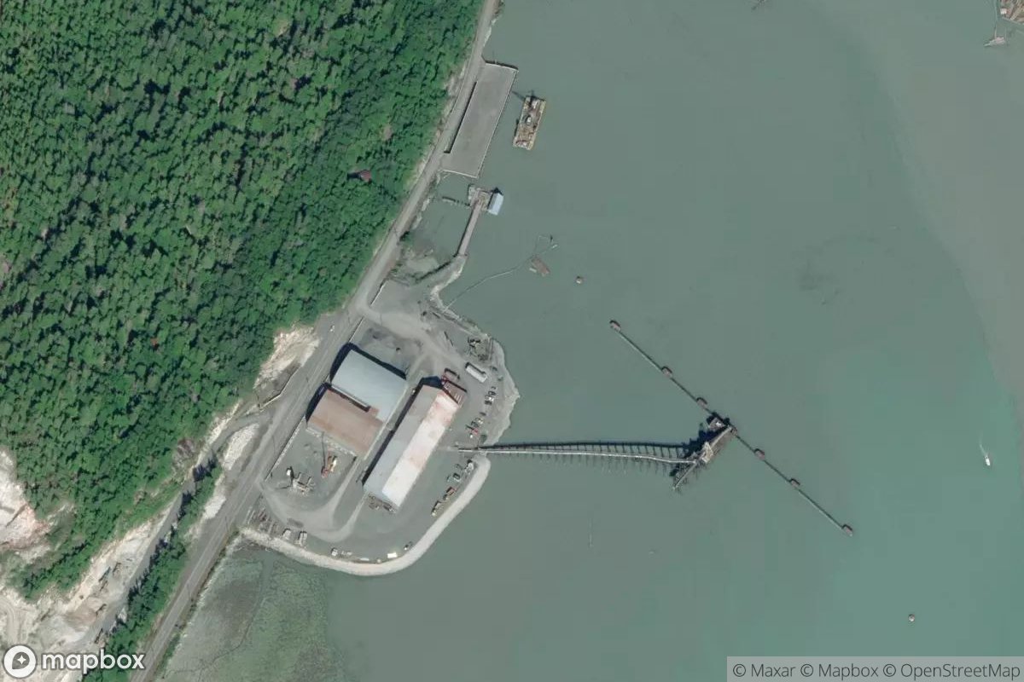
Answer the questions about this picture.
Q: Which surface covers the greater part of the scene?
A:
water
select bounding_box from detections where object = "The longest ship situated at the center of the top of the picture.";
[514,95,546,151]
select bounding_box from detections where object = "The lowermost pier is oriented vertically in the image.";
[462,187,491,256]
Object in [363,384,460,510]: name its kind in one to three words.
shed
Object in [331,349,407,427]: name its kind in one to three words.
shed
